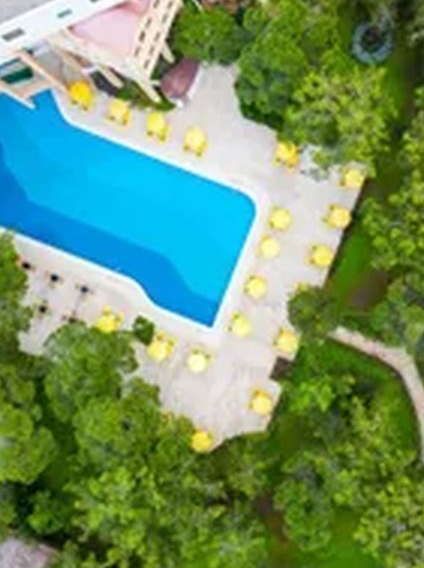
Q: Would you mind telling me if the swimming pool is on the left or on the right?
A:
left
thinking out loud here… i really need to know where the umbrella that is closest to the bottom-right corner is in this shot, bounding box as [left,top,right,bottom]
[249,389,273,412]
